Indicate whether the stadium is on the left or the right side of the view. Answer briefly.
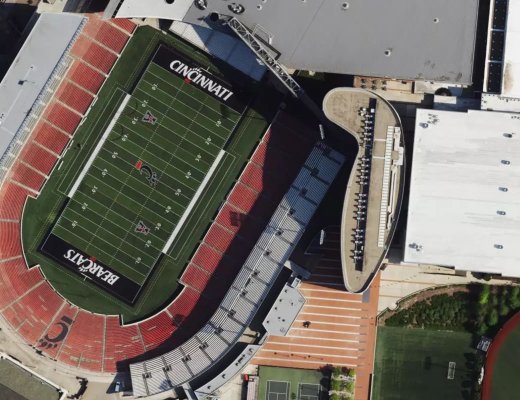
left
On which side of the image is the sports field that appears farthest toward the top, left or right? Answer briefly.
left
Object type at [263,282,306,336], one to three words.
building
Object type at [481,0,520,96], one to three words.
building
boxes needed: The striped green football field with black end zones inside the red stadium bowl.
[22,26,281,327]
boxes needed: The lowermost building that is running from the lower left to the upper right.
[194,344,261,395]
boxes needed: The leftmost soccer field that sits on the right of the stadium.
[373,328,484,400]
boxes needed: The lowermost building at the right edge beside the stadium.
[402,109,520,278]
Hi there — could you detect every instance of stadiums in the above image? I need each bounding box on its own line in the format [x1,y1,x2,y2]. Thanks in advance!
[0,2,347,398]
